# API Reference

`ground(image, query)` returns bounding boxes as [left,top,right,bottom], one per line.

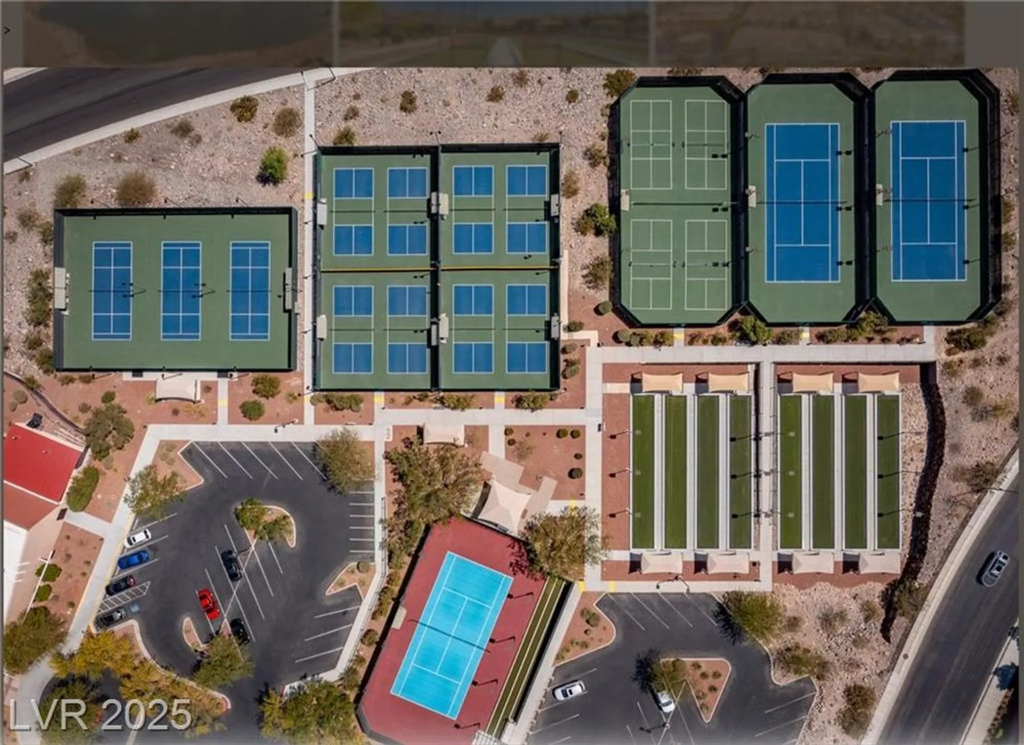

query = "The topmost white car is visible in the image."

[123,527,155,549]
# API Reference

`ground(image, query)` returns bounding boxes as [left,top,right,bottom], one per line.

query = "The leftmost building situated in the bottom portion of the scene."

[0,421,91,639]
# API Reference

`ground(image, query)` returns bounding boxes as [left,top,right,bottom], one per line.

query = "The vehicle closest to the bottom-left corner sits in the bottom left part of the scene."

[95,607,129,630]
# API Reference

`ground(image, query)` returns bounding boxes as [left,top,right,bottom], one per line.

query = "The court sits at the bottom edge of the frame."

[361,517,573,745]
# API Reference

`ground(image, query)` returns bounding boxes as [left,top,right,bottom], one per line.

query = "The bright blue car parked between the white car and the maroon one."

[118,548,152,570]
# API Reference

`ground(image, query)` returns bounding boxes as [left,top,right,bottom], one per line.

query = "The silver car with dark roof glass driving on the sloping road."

[980,550,1009,586]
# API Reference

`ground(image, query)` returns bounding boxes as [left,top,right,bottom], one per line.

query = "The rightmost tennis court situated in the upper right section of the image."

[873,77,989,326]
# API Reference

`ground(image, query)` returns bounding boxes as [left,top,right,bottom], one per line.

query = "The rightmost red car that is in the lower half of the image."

[199,588,220,620]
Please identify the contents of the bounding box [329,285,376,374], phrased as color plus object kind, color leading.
blue sports court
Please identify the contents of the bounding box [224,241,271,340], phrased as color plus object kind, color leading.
blue tennis court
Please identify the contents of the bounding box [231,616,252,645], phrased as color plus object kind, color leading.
black car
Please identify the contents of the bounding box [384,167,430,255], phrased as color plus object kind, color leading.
blue sports court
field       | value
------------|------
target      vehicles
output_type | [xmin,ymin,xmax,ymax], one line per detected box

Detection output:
[95,607,129,630]
[118,548,152,570]
[221,548,243,581]
[199,588,220,620]
[980,550,1009,586]
[654,685,677,717]
[553,680,586,702]
[123,527,155,549]
[104,574,138,596]
[231,616,252,645]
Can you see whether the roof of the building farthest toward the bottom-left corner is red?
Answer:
Yes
